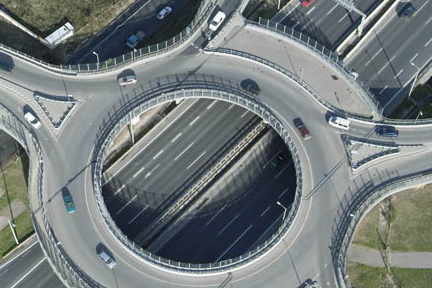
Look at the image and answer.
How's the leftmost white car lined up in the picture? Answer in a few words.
diagonally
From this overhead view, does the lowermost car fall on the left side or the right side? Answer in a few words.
left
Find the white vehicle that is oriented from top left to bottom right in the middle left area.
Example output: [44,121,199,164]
[23,109,43,130]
